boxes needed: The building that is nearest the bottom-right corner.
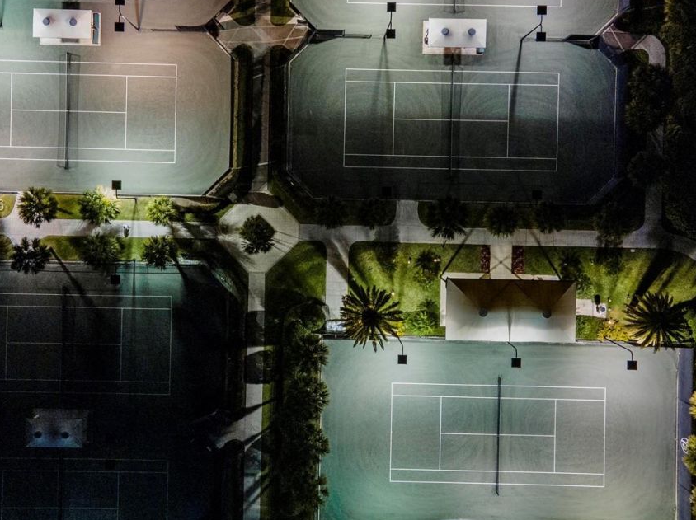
[439,272,576,341]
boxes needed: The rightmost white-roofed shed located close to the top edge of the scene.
[424,16,487,58]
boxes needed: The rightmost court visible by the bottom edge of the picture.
[319,339,680,520]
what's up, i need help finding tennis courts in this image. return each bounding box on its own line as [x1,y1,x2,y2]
[290,0,619,35]
[0,421,225,520]
[0,258,229,429]
[287,32,618,204]
[0,26,232,197]
[319,339,680,520]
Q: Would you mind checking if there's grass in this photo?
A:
Yes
